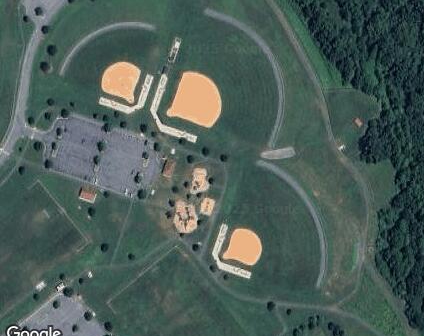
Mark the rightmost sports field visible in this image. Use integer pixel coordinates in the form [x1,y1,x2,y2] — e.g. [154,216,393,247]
[108,246,239,336]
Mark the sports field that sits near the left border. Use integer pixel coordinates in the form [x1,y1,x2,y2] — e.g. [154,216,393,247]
[0,180,90,286]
